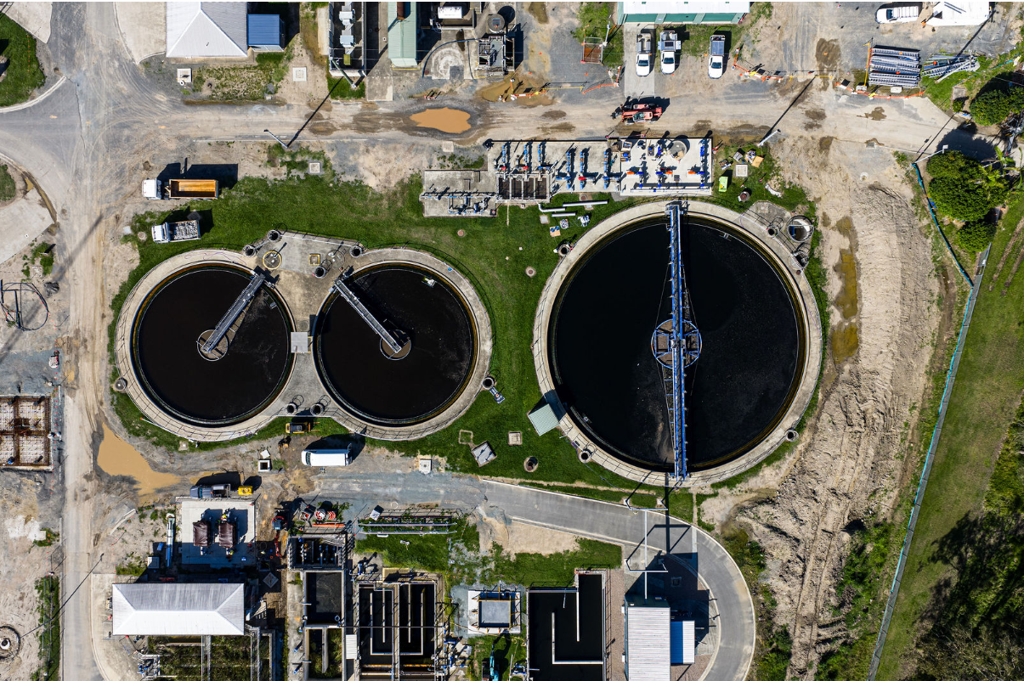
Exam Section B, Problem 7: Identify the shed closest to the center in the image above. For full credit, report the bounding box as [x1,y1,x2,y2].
[529,404,560,436]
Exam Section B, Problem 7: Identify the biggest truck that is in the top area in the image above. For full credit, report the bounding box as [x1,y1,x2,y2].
[140,175,221,201]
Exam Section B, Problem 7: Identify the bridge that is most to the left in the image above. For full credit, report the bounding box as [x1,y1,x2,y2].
[198,263,275,355]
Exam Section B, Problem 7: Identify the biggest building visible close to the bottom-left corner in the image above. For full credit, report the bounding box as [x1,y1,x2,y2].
[111,579,250,635]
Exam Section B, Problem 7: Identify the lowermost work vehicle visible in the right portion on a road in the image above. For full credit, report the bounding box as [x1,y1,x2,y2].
[607,97,662,124]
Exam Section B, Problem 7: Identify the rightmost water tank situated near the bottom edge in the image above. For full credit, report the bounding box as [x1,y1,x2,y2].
[527,570,607,681]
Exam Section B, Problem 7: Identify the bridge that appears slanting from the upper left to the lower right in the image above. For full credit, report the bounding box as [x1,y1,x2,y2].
[321,270,405,354]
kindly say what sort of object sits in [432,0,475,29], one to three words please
storage tank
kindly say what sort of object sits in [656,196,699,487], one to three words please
bridge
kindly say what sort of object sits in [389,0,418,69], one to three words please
building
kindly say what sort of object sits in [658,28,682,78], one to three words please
truck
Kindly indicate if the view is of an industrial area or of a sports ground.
industrial area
